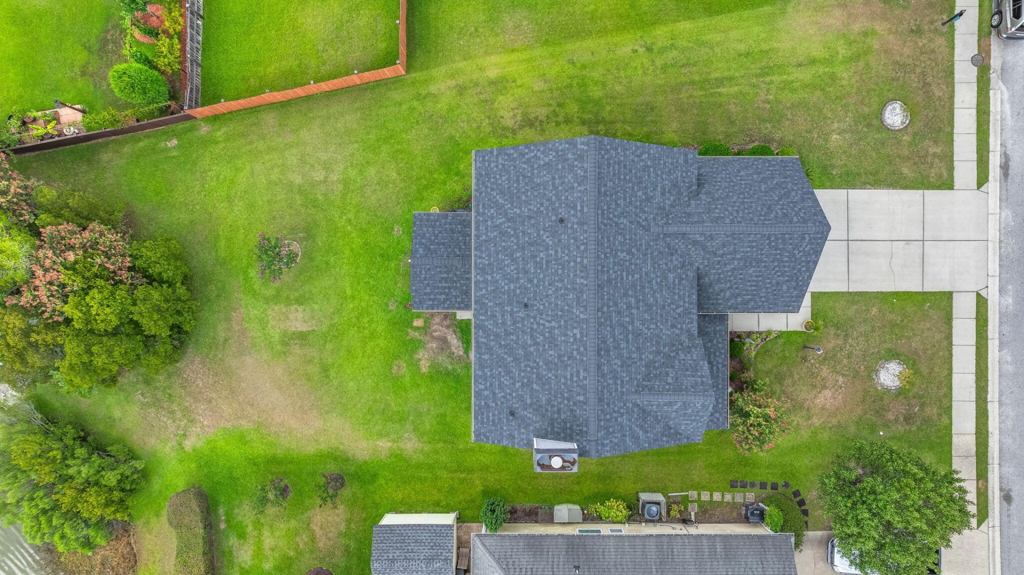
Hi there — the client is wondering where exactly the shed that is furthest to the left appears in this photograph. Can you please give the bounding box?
[371,510,458,575]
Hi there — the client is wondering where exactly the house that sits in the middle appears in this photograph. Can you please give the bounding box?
[410,136,831,474]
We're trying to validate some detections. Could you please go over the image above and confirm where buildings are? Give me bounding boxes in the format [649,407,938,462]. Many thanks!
[410,136,831,474]
[471,522,798,575]
[371,510,458,575]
